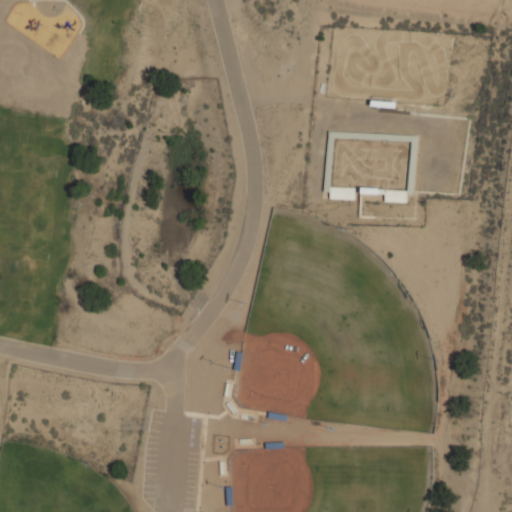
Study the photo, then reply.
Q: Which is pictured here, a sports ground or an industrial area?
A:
sports ground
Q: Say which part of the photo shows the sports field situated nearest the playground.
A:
left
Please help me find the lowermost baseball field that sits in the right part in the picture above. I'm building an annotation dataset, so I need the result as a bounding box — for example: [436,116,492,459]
[232,446,432,512]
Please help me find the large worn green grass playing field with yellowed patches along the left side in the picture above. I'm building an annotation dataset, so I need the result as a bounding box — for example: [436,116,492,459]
[0,106,72,346]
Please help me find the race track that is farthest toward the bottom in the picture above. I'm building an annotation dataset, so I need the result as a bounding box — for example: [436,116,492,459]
[330,139,410,191]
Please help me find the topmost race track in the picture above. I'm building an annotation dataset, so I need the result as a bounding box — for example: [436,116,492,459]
[326,28,454,105]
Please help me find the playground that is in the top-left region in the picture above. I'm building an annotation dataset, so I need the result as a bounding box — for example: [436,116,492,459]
[6,2,81,58]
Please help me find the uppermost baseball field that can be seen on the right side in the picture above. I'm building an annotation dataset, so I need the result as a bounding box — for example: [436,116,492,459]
[237,208,437,431]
